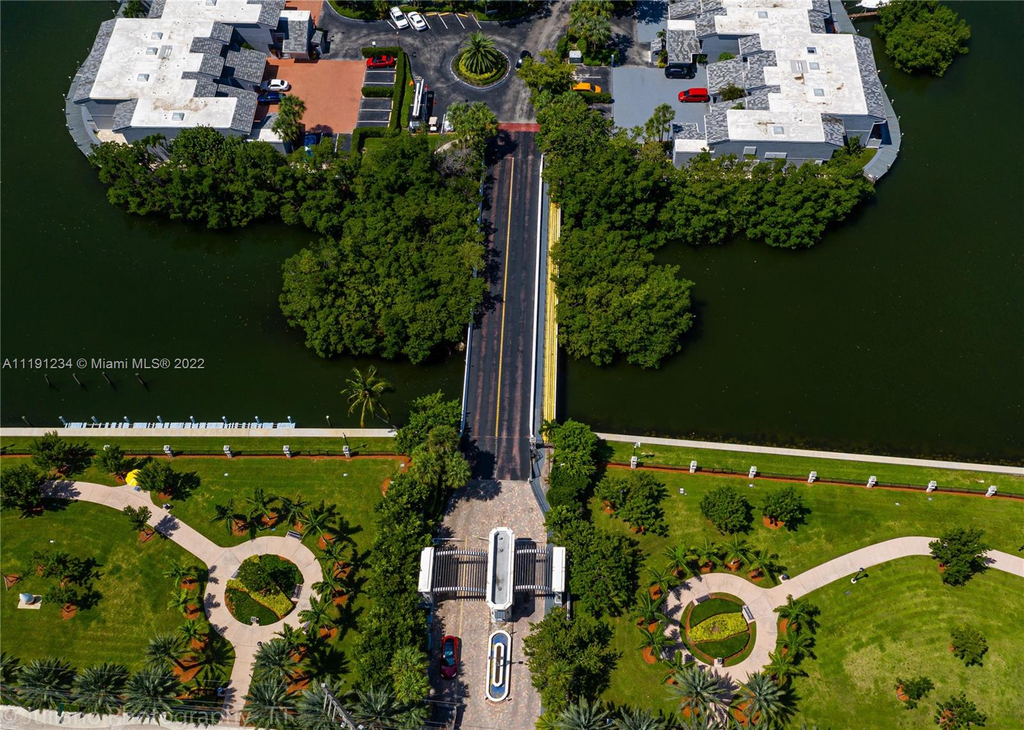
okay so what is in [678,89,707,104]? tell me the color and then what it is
red car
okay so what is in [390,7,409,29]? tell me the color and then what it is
white vehicle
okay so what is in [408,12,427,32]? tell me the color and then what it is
white car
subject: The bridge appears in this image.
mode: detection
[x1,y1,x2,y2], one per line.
[460,131,563,457]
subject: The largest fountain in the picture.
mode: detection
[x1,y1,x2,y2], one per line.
[487,630,511,704]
